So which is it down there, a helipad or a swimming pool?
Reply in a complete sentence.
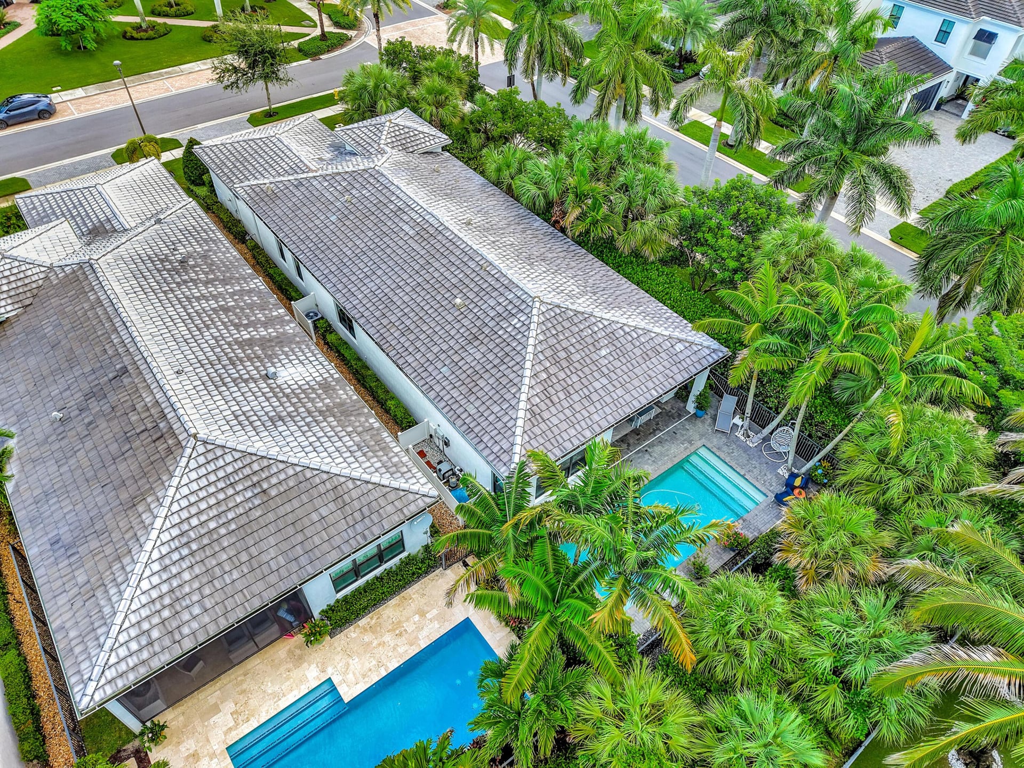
There is a swimming pool in the scene.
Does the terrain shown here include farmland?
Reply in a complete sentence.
No, the picture contains no farmland.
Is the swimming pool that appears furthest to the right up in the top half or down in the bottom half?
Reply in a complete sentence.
The swimming pool that appears furthest to the right is in the bottom half of the image.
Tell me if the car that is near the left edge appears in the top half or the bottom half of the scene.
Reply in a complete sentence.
You can find the car that is near the left edge in the top half.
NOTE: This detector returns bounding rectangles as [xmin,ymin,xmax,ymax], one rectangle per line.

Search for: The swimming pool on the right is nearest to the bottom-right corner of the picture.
[555,444,769,620]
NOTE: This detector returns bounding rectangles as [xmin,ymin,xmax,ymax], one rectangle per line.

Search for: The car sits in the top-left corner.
[0,91,56,130]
